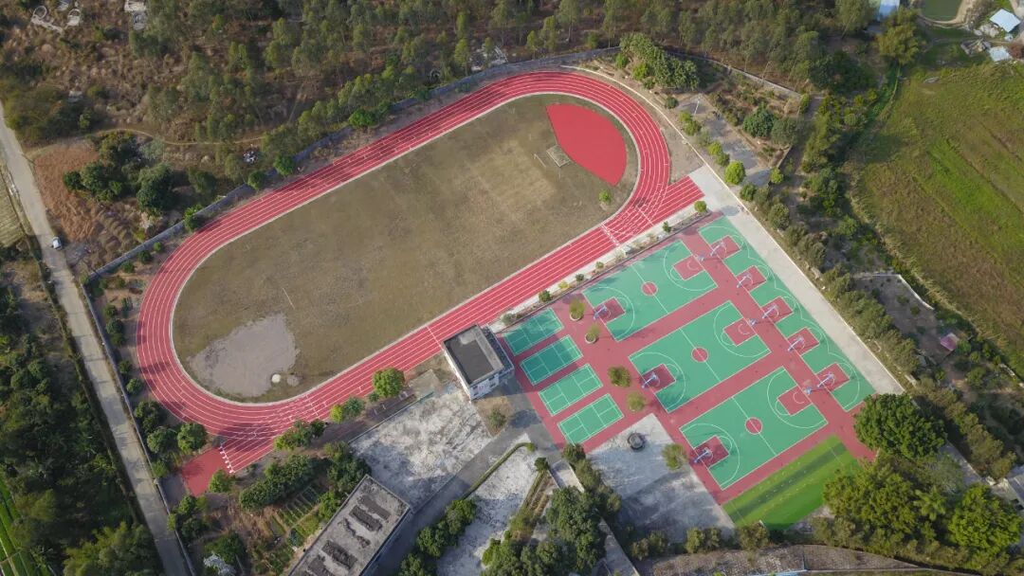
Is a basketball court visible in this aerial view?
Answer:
Yes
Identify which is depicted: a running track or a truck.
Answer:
running track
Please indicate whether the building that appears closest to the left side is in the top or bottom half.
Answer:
bottom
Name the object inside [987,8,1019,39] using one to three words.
shed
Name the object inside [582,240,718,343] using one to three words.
basketball court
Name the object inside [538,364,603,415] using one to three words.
sports court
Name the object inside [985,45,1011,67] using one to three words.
shed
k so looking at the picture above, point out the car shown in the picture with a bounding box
[51,235,64,251]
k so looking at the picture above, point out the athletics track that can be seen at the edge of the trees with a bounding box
[139,74,703,499]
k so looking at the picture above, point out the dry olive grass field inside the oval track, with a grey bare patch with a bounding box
[172,94,637,403]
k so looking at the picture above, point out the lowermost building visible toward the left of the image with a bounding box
[287,474,416,576]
